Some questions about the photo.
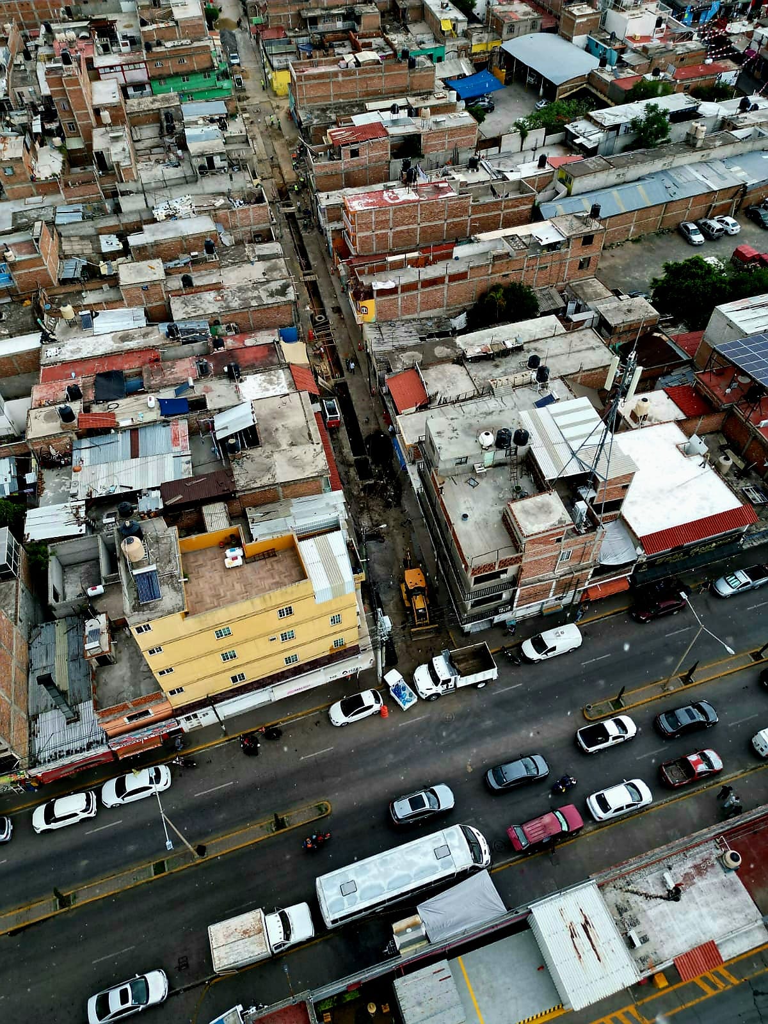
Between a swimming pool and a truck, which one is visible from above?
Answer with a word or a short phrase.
truck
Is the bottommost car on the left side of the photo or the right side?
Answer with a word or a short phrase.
left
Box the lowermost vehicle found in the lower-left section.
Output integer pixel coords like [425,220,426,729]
[85,966,171,1024]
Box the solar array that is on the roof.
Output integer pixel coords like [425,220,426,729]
[704,320,768,399]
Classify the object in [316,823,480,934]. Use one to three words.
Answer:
bus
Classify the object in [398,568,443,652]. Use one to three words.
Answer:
work vehicle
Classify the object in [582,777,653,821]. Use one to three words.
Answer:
car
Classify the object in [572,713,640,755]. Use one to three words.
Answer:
truck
